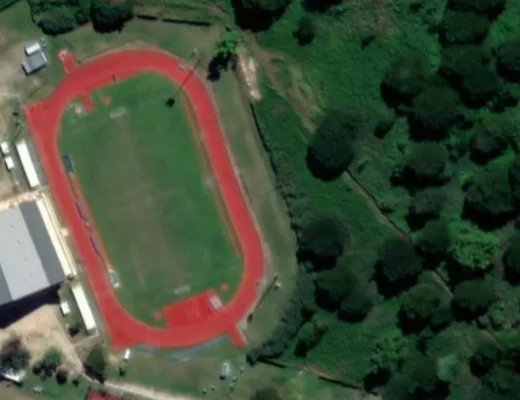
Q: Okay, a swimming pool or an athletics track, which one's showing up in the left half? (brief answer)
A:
athletics track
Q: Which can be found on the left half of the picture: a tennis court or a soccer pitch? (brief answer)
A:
soccer pitch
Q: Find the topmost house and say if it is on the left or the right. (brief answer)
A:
left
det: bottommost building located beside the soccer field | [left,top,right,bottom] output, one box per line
[0,200,63,303]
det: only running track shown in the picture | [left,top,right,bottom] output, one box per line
[26,46,269,350]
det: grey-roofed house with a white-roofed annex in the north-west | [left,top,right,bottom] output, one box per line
[24,46,45,75]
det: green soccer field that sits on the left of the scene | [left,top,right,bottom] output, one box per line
[56,71,244,329]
